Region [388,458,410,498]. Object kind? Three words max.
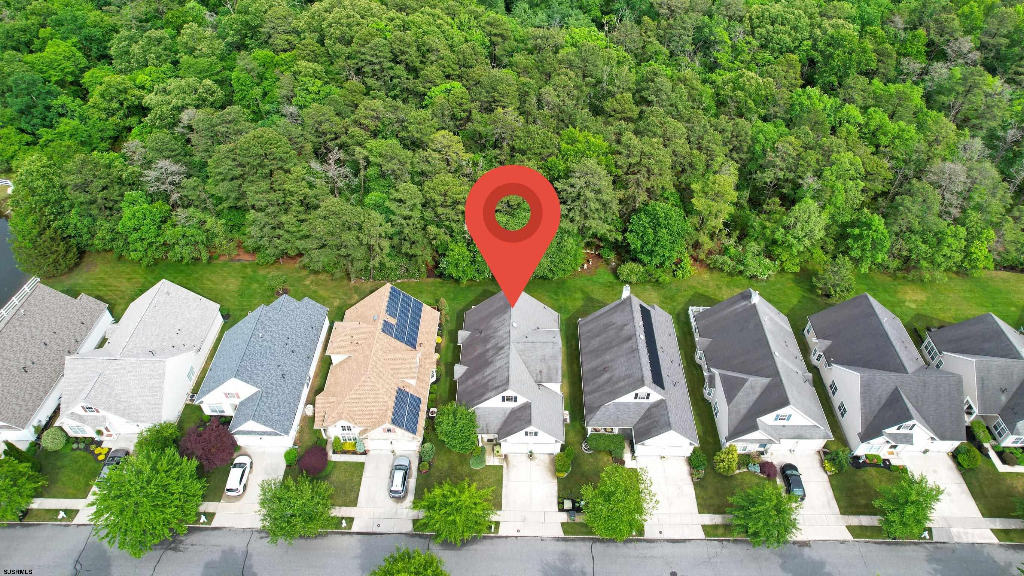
car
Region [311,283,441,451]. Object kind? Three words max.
house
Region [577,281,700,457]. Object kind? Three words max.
house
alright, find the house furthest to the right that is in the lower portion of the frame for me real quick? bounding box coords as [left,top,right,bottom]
[923,312,1024,448]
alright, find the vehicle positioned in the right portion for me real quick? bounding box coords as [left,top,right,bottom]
[778,463,809,504]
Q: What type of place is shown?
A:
residential area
